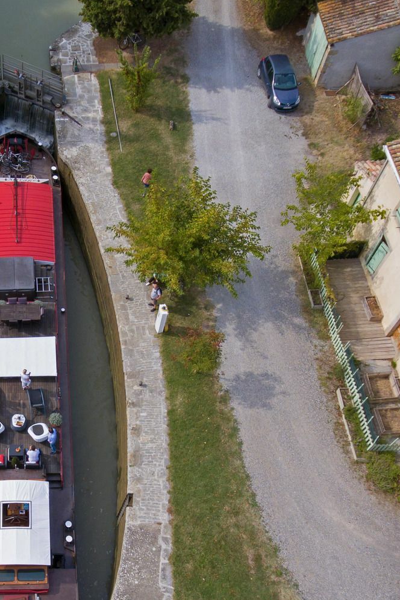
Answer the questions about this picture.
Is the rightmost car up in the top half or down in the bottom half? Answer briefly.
top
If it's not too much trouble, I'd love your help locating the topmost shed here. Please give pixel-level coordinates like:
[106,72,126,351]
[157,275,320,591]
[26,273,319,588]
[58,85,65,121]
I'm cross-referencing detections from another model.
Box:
[307,0,400,86]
